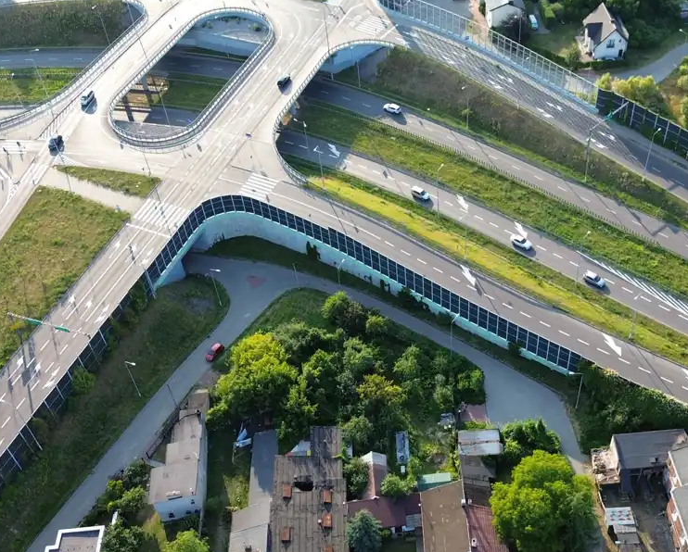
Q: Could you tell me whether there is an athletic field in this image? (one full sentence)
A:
No, I can't see a single athletic field in this photo.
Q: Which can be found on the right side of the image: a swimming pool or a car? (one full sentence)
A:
Visible on the right side of the image is a car.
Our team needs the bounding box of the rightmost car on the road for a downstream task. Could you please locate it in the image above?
[583,268,607,287]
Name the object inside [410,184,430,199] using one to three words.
car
